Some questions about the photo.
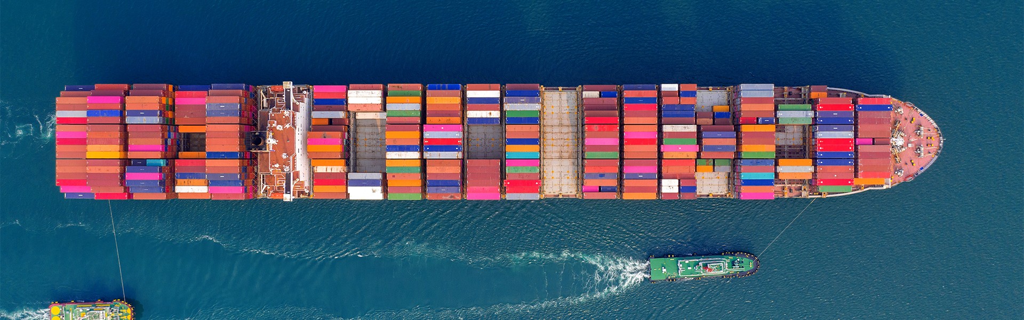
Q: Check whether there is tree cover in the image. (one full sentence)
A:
No, no tree cover is visible.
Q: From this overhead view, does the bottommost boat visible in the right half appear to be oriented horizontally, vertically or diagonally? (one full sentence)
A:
In this picture, the bottommost boat visible in the right half lies horizontally.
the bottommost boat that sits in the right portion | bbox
[648,251,761,283]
